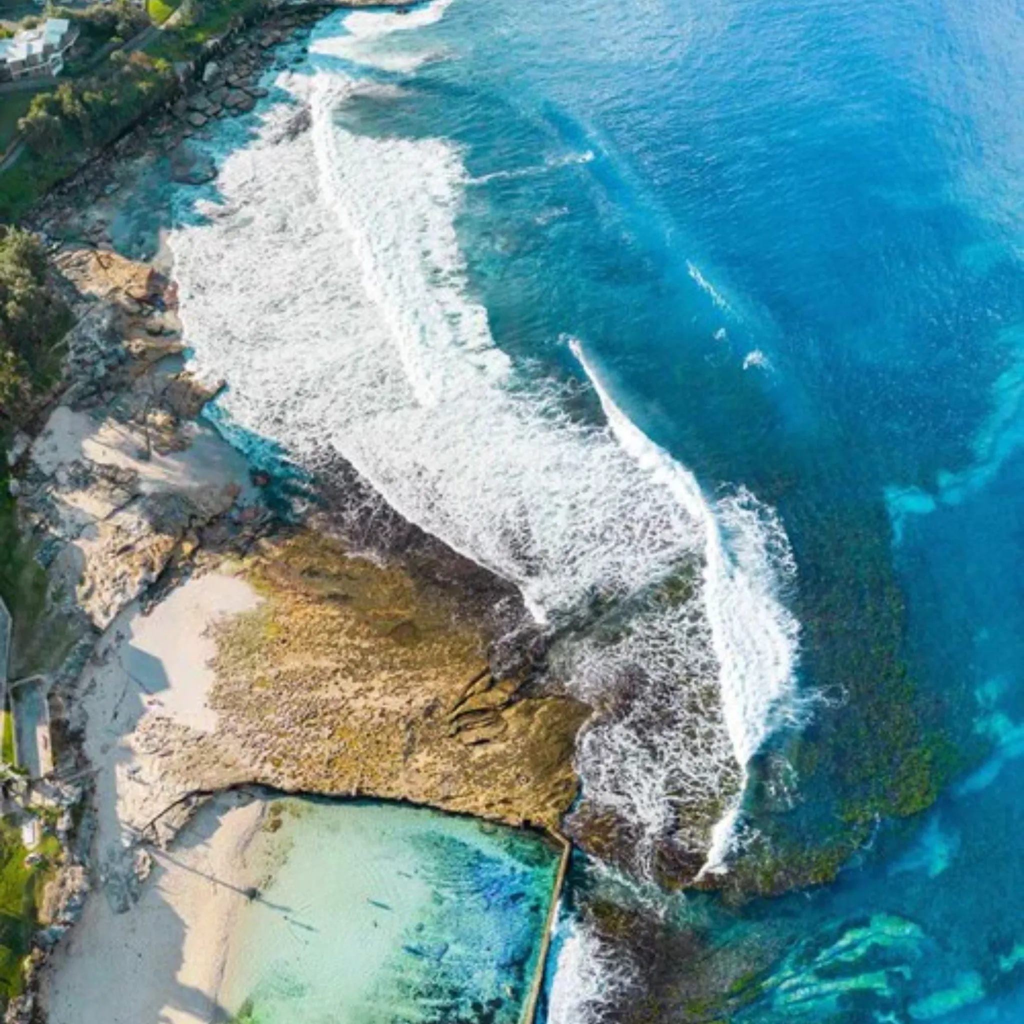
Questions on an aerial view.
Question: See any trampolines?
No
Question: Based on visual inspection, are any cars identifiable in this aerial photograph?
No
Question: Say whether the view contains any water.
Yes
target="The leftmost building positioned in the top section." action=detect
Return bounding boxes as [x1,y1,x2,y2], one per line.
[0,19,81,80]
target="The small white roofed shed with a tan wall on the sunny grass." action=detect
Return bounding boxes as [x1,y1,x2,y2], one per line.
[22,821,45,850]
